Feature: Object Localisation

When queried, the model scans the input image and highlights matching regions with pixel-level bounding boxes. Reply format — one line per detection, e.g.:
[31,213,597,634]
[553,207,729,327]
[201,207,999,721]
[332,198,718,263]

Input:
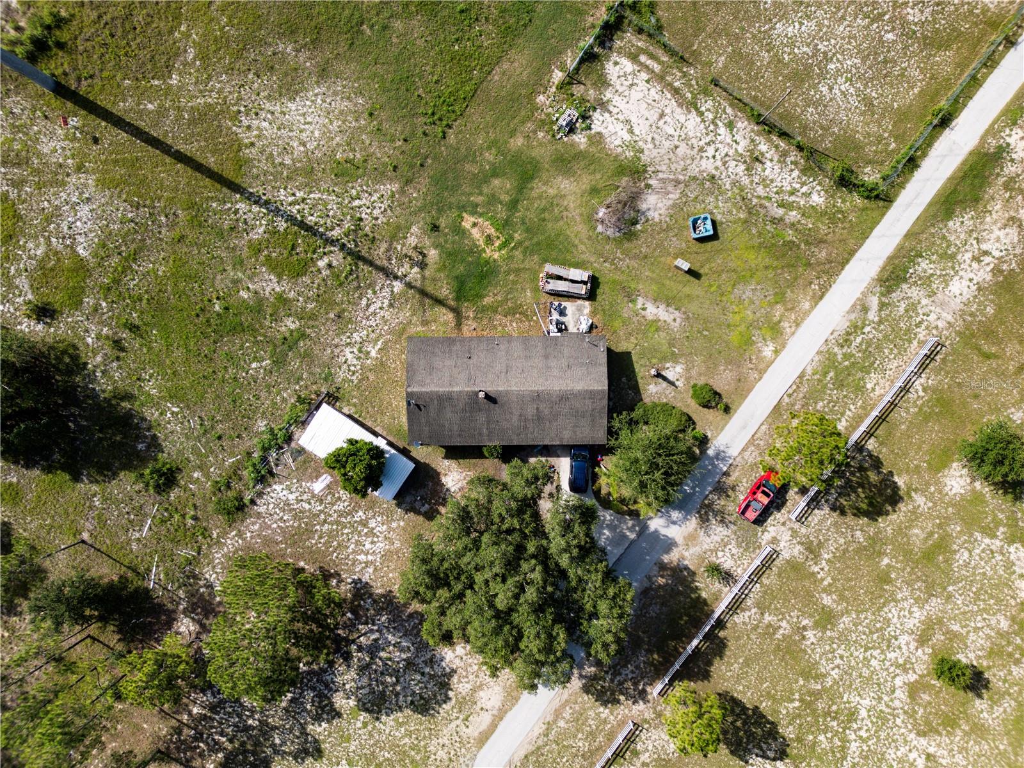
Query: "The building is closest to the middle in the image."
[404,332,609,448]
